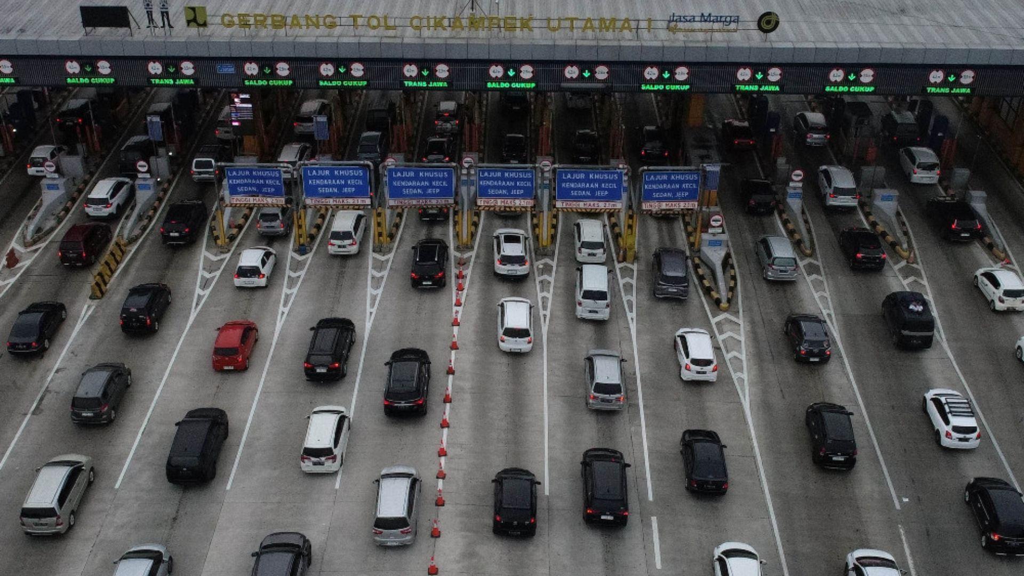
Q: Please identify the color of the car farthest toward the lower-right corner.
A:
black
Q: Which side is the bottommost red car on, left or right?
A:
left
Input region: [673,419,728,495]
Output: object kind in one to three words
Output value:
car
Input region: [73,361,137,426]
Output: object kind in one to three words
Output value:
car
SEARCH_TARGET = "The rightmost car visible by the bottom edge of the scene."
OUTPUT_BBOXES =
[950,469,1024,555]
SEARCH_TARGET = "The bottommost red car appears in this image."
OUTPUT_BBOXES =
[212,319,261,371]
